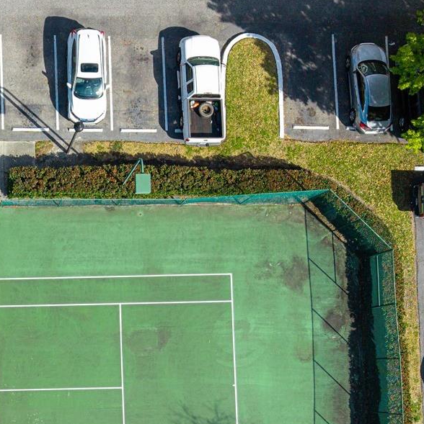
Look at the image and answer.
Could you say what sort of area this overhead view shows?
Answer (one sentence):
This image shows a sports ground.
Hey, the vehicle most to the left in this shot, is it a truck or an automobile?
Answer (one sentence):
Specifically, the vehicle most to the left is an automobile.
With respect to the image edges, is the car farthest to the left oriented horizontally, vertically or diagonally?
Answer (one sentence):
The car farthest to the left has been laid out vertically relative to the frame.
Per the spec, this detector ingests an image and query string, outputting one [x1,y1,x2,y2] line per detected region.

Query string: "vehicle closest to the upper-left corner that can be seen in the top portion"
[63,23,112,127]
